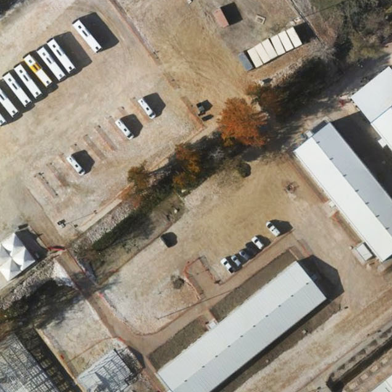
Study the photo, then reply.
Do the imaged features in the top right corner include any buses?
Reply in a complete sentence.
No, there is no bus in the top right corner.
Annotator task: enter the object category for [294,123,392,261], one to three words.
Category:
building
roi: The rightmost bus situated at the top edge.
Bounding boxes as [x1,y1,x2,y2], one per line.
[69,17,101,53]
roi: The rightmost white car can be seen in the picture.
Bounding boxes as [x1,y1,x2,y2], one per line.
[267,221,280,236]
